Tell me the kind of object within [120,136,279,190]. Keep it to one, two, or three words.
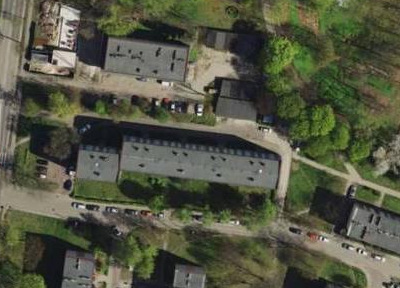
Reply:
building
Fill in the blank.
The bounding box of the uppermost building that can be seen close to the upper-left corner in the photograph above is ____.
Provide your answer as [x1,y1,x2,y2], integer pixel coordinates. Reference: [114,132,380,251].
[59,5,81,51]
